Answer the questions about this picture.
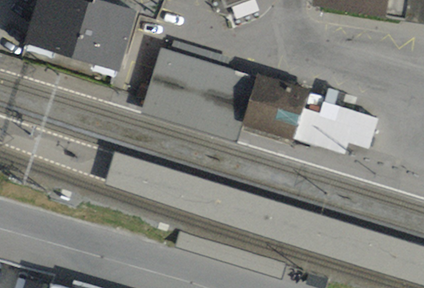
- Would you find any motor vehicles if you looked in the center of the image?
No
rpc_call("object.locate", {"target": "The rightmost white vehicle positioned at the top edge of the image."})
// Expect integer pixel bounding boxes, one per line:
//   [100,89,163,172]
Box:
[162,13,186,26]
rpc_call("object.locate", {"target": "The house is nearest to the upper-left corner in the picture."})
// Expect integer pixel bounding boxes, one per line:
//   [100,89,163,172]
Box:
[22,0,137,78]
